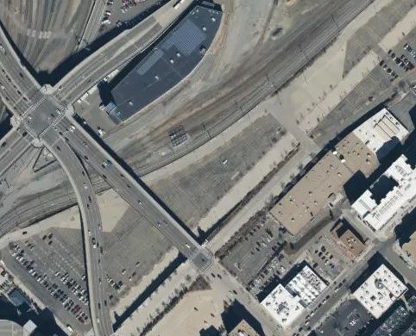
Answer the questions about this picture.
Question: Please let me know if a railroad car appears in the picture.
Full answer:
No, no railroad car can be seen from above.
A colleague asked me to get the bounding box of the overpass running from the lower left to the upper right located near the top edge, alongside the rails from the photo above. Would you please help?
[53,0,196,103]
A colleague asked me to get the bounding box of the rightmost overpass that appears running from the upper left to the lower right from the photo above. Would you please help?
[62,113,228,283]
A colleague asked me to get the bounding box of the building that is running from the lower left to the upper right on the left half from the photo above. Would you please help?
[108,6,222,124]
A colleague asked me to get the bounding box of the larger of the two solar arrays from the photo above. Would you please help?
[181,20,206,55]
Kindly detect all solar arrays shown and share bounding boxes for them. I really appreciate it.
[181,20,206,55]
[138,48,163,74]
